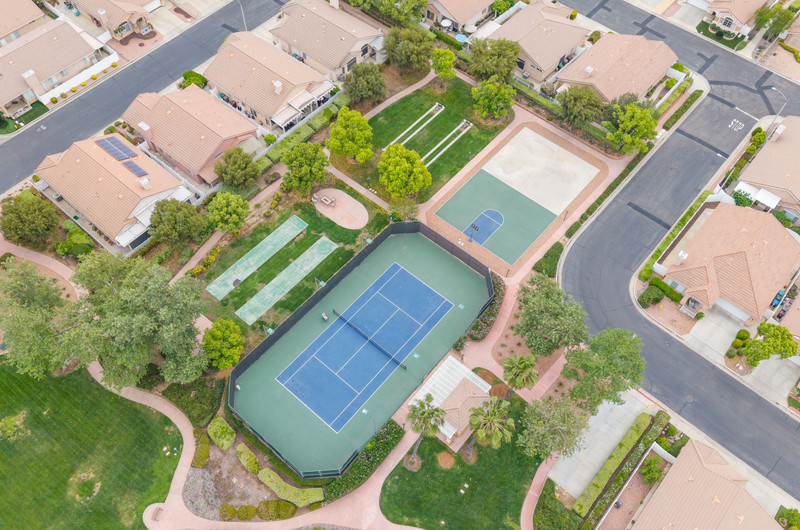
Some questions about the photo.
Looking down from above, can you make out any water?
No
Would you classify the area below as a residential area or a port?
residential area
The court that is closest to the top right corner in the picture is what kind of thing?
basketball court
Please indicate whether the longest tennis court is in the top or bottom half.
bottom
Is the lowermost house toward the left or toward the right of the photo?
right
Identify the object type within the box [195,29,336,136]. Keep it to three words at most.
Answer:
house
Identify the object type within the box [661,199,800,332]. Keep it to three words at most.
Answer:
house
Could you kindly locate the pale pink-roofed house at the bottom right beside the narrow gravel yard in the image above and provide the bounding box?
[635,436,784,530]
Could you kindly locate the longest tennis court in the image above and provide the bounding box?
[232,231,495,478]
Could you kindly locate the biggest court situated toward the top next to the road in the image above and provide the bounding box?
[435,129,598,265]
